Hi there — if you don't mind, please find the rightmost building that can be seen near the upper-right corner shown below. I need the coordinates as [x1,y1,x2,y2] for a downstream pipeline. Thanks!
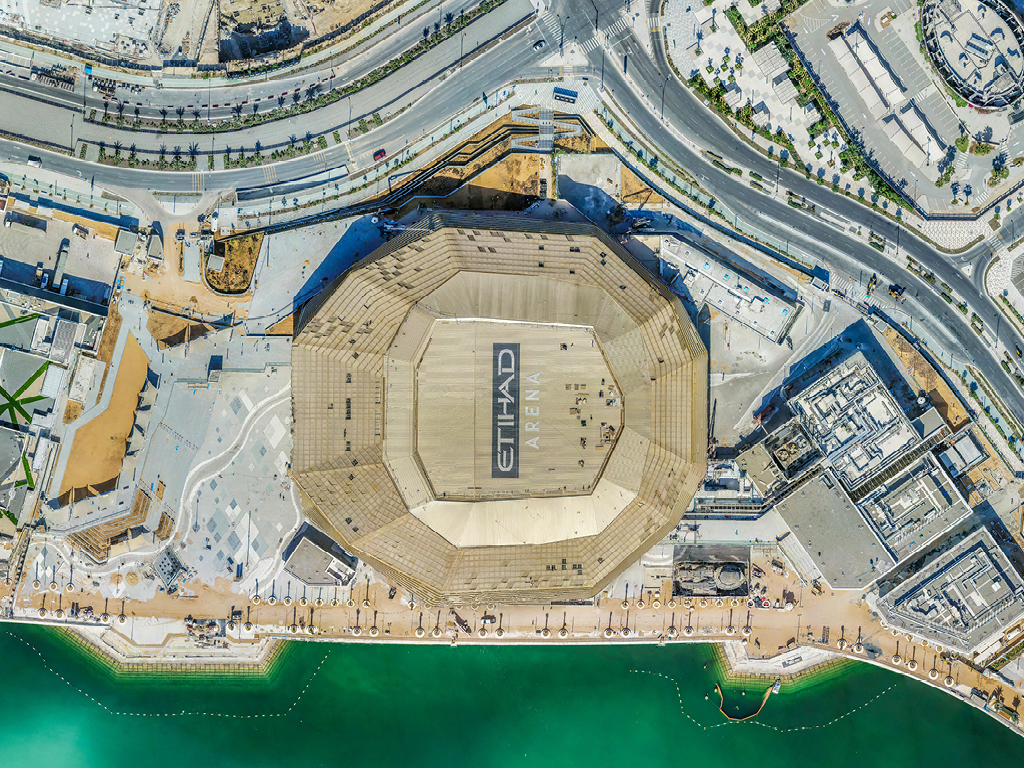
[926,0,1024,107]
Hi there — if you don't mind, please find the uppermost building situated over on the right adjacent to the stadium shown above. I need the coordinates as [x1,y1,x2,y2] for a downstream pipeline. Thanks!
[660,234,805,347]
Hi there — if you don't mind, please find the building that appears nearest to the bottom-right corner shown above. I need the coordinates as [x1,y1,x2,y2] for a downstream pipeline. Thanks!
[873,525,1024,657]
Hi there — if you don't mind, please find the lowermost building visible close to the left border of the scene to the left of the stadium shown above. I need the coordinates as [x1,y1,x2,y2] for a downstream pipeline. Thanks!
[0,288,111,532]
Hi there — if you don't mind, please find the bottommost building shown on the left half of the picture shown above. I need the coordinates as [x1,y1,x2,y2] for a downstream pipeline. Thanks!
[283,536,356,586]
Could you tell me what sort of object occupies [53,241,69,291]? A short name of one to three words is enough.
vehicle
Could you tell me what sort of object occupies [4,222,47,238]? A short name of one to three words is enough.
vehicle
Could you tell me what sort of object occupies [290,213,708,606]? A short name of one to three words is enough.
stadium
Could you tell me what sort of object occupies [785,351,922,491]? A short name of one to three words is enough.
building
